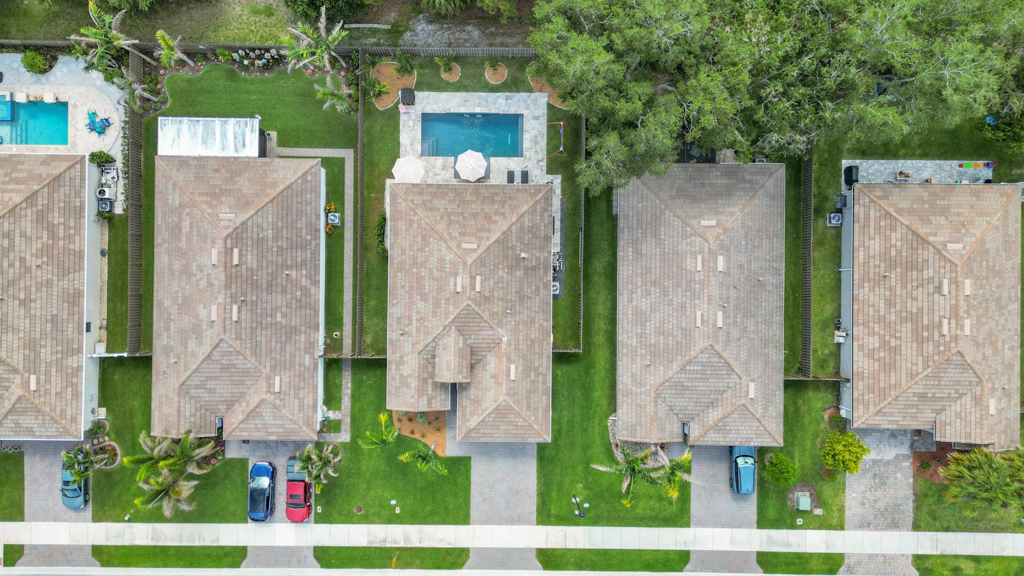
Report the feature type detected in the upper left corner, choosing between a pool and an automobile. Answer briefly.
pool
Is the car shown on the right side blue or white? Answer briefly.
blue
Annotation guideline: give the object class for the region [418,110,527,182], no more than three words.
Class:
swimming pool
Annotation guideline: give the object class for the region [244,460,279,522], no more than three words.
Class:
car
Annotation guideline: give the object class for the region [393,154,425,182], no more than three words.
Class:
umbrella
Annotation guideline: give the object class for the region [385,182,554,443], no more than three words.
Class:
house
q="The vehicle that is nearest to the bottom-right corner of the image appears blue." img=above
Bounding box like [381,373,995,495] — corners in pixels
[727,446,761,496]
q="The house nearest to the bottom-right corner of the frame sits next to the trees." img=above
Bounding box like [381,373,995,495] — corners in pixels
[834,182,1024,450]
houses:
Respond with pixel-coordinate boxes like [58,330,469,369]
[385,182,554,443]
[834,182,1024,450]
[0,154,107,441]
[611,162,789,447]
[151,155,328,441]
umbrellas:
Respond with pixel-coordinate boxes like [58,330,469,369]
[393,154,425,182]
[455,150,488,182]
